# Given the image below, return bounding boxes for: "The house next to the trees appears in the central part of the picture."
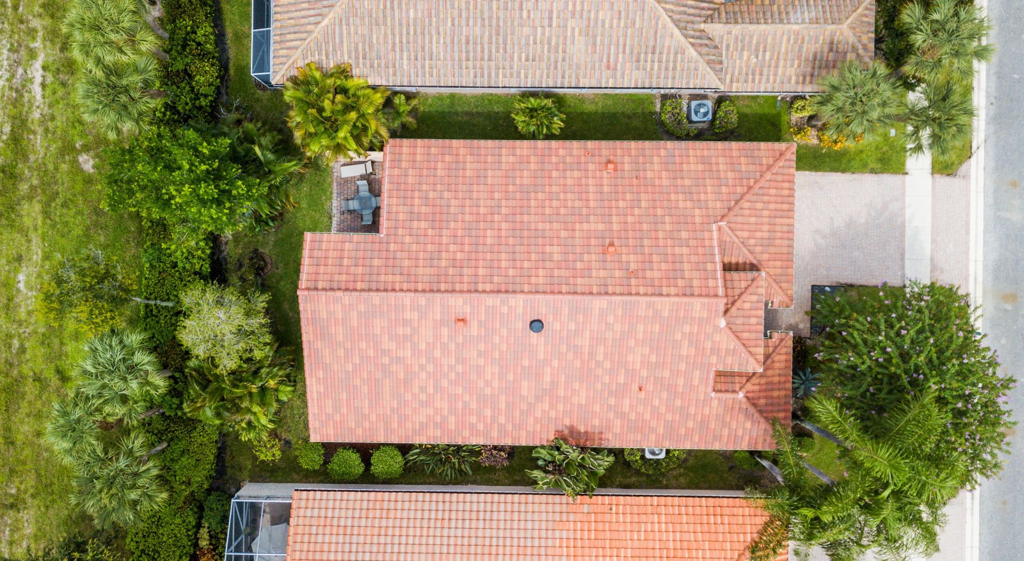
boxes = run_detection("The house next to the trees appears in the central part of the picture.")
[295,137,799,453]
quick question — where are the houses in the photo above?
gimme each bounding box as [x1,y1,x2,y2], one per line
[269,0,879,116]
[295,137,799,453]
[286,483,789,561]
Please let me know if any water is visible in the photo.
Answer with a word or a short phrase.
No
